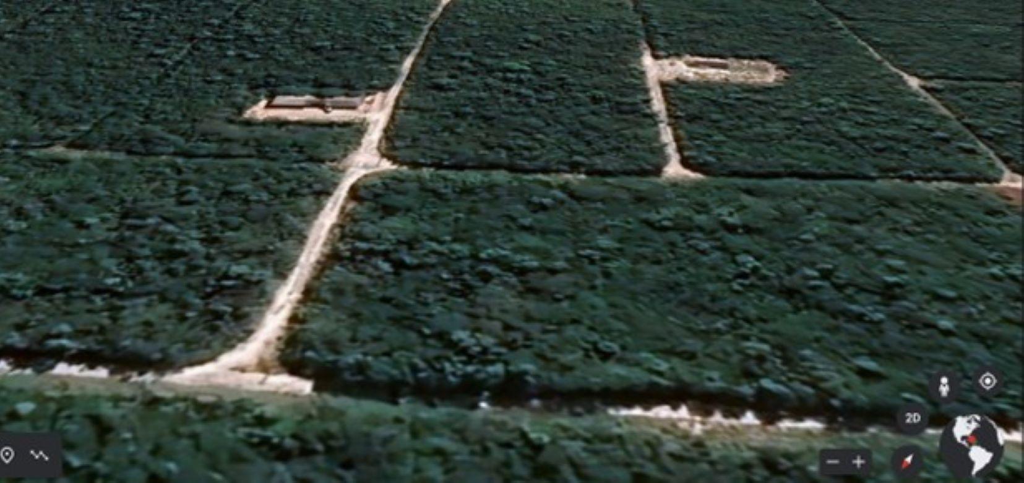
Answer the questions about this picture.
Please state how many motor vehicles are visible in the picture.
0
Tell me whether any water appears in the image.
No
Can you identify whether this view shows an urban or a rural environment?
rural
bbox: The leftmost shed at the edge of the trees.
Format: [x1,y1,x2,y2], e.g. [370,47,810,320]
[268,95,329,110]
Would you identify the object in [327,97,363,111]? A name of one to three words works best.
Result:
shed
